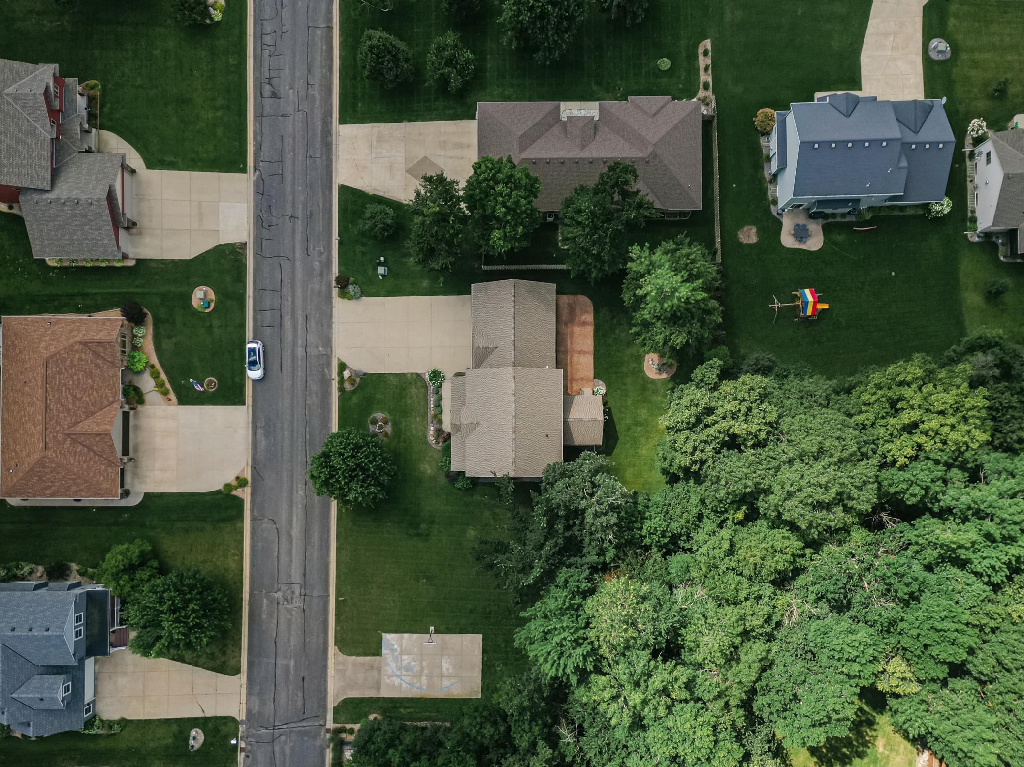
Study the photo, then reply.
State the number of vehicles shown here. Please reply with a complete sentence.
There is 1 vehicle in the image.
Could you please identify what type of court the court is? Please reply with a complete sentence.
In the photo, the court shows up as a basketball court.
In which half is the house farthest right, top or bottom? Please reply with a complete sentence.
The house farthest right is in the top half of the image.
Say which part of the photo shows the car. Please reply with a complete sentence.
The car is in the left part of the image.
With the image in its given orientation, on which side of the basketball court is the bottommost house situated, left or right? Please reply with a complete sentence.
The bottommost house is to the left of the basketball court.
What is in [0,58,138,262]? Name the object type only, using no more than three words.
house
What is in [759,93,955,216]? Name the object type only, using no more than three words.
house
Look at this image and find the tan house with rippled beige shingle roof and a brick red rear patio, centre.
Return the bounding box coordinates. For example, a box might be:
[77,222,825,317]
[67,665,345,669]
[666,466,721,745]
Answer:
[451,279,604,478]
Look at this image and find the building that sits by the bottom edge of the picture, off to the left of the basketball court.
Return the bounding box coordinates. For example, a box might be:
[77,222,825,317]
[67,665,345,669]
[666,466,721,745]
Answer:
[0,580,132,737]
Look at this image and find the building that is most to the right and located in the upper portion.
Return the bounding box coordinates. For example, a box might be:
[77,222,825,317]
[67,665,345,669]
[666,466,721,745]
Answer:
[963,128,1024,254]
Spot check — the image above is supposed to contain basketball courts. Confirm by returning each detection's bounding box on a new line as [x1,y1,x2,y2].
[381,633,485,698]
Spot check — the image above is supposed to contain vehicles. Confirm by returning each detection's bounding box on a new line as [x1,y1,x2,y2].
[245,339,266,379]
